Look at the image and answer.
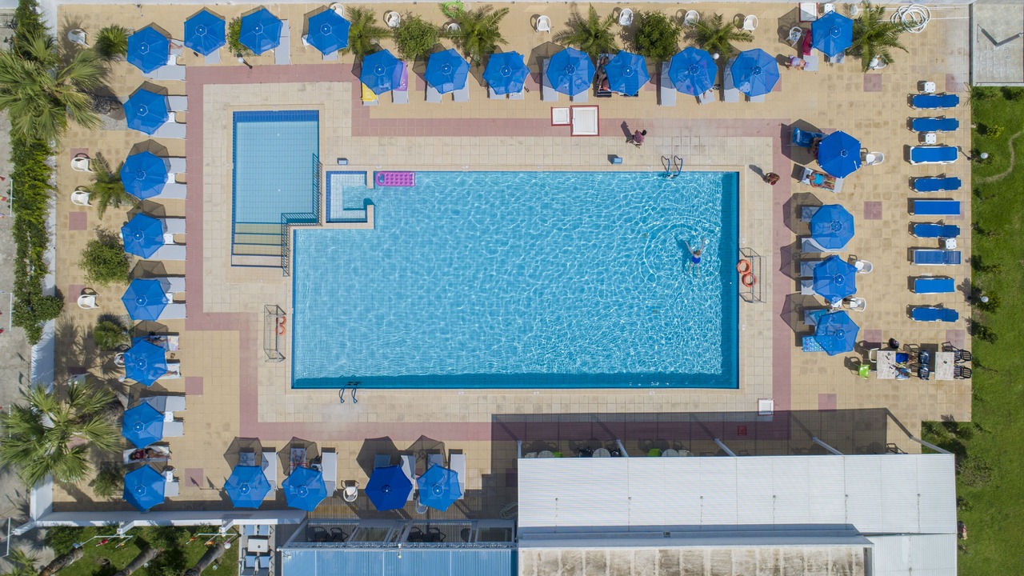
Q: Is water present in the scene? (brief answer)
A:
Yes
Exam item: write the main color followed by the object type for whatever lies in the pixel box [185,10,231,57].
blue umbrella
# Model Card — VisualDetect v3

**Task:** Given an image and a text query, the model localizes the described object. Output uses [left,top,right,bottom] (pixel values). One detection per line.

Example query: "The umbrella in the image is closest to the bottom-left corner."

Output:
[127,463,176,509]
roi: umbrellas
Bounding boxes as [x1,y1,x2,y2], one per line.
[806,254,853,302]
[423,48,469,94]
[366,465,414,509]
[360,49,405,97]
[602,51,649,100]
[668,47,717,96]
[127,87,177,134]
[808,308,858,353]
[804,203,852,247]
[127,338,178,385]
[185,10,231,57]
[545,47,594,97]
[810,131,859,179]
[310,9,351,56]
[123,150,173,199]
[807,11,849,59]
[227,464,275,505]
[132,27,180,72]
[126,212,169,258]
[284,461,329,508]
[483,52,530,97]
[127,463,176,509]
[729,49,777,99]
[419,461,461,507]
[241,10,284,57]
[125,278,177,321]
[125,399,175,444]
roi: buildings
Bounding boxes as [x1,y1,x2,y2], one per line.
[280,518,515,576]
[517,435,958,576]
